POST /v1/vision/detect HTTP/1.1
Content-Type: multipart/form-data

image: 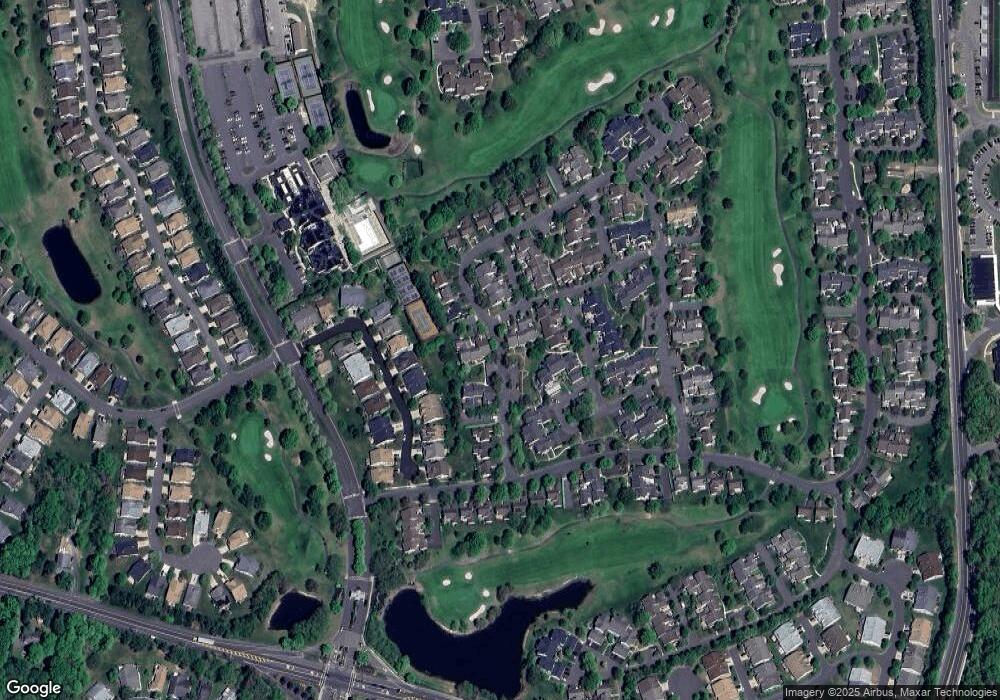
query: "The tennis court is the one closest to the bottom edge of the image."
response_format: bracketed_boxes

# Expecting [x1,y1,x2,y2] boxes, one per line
[404,300,438,341]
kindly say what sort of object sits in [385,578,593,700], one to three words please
pond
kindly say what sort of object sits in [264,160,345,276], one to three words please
building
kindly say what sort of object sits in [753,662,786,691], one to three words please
house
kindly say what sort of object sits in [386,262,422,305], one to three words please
sports court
